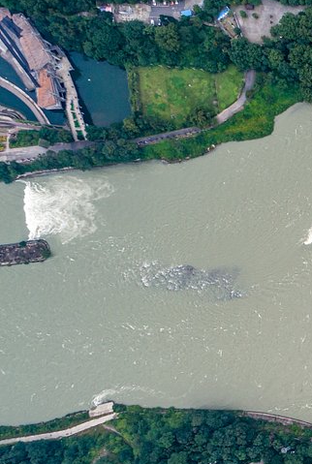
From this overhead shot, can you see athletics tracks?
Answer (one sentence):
No, there's no athletics track here.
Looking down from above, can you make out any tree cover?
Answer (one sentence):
Yes, the picture does contain tree cover.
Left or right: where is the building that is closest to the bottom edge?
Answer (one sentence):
It is on the left.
